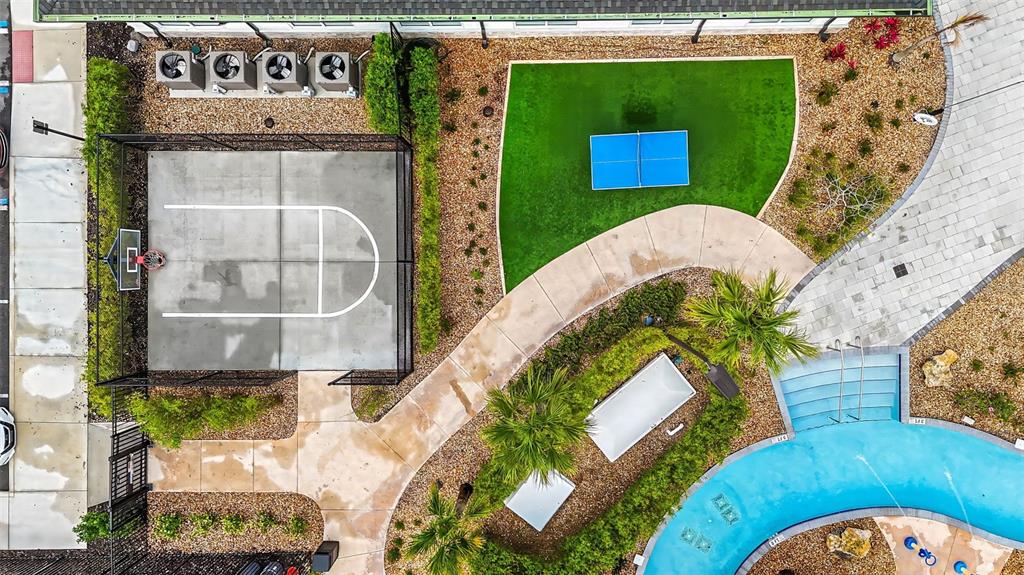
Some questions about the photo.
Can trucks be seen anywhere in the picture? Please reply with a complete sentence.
No, there's no truck here.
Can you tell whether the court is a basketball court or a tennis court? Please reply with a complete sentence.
Specifically, the court is a basketball court.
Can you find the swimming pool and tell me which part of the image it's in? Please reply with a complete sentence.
Look in the bottom right portion of the view to spot the swimming pool.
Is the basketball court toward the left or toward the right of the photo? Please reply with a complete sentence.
You can find the basketball court on the left side of the picture.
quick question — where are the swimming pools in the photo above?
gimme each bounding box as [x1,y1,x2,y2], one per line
[635,344,1024,575]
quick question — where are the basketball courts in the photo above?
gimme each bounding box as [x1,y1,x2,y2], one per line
[148,151,412,371]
